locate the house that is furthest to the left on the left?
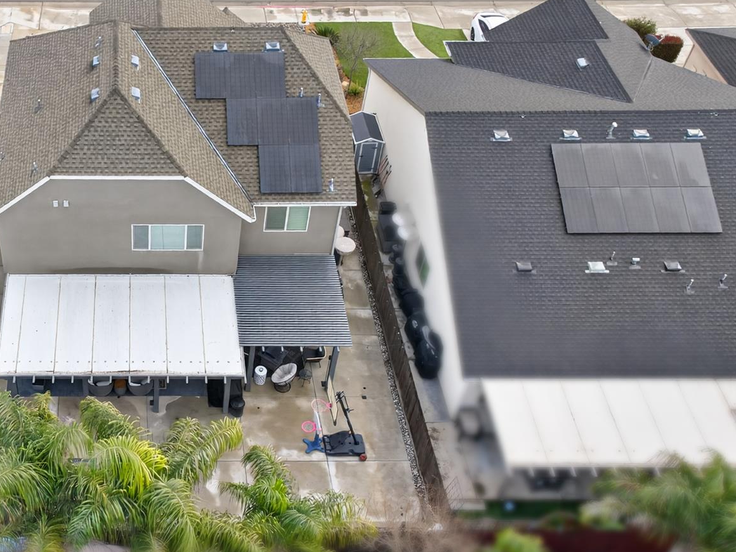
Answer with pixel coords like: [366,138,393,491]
[0,0,357,279]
